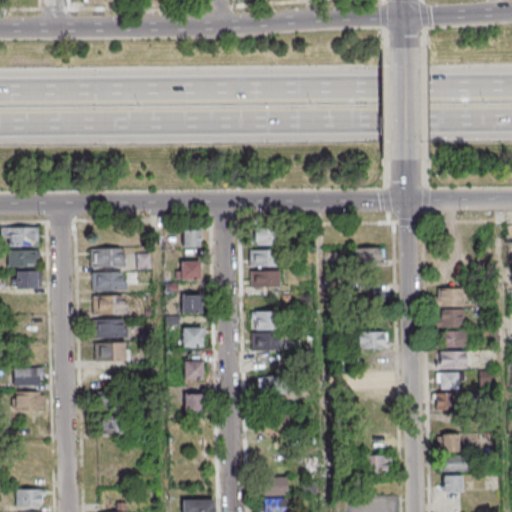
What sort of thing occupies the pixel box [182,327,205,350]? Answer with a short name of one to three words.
house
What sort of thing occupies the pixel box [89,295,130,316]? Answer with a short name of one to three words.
house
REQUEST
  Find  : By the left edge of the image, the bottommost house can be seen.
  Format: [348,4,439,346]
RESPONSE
[16,488,46,510]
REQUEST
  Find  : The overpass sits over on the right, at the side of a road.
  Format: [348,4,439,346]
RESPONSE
[384,28,428,186]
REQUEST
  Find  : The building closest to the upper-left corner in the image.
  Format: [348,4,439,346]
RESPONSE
[2,226,40,248]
